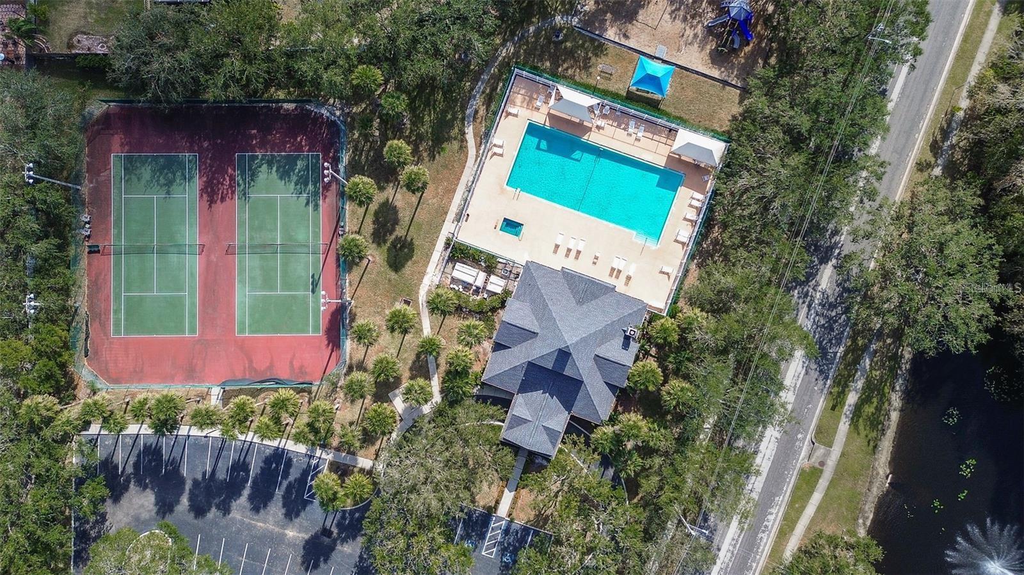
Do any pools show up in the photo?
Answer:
Yes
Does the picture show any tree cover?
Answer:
Yes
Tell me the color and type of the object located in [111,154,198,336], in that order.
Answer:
green tennis court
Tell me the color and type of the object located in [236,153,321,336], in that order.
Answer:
green tennis court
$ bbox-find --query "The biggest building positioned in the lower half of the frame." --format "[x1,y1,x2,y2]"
[481,260,646,455]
